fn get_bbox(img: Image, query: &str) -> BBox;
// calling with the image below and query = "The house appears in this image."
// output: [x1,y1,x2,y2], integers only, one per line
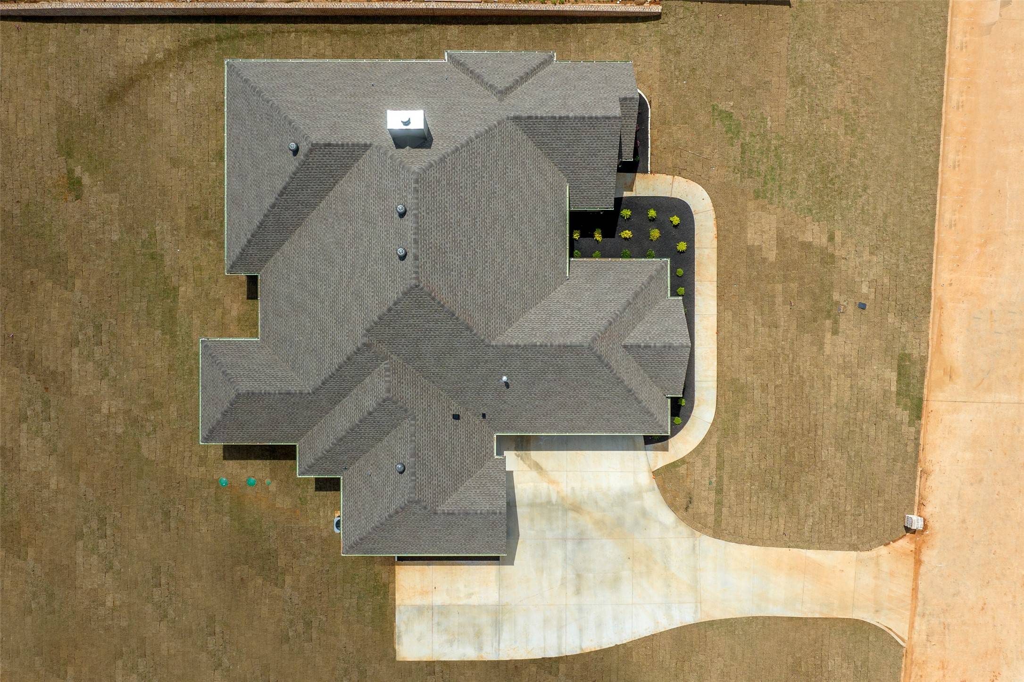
[199,50,693,557]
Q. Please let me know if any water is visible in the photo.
No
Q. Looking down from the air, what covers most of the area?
grass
